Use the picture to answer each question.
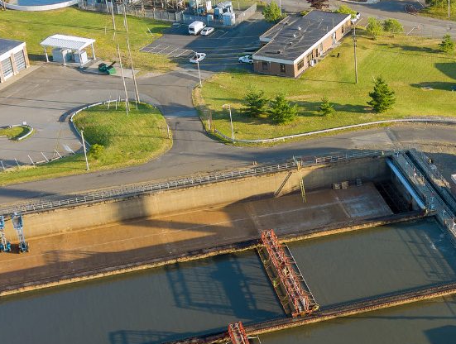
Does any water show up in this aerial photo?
Yes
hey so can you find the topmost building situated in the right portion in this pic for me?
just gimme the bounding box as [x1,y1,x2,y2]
[238,10,360,79]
